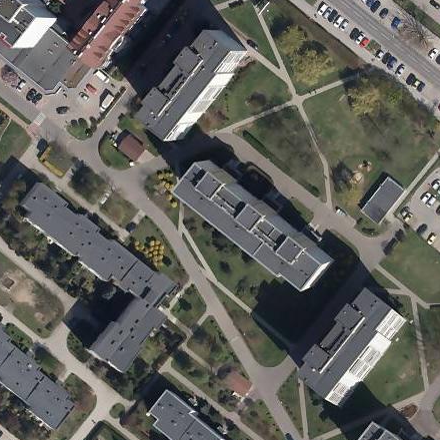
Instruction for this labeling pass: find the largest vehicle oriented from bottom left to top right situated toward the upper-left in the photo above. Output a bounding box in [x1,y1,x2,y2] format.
[99,90,116,110]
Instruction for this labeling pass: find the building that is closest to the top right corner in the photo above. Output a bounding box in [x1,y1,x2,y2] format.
[360,178,404,223]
